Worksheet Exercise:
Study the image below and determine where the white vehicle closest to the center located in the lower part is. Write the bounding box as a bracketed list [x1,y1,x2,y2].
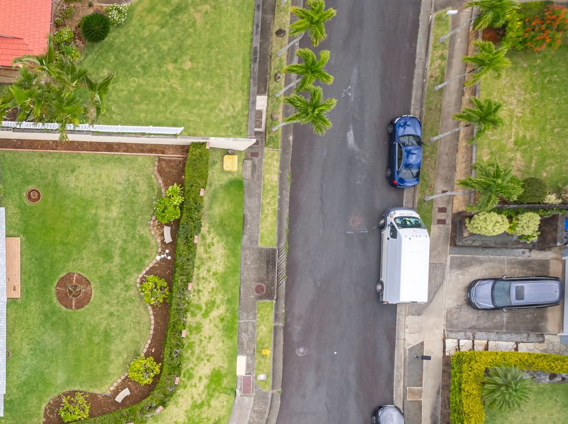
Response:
[377,207,430,304]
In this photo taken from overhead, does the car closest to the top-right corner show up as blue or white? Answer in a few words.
blue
